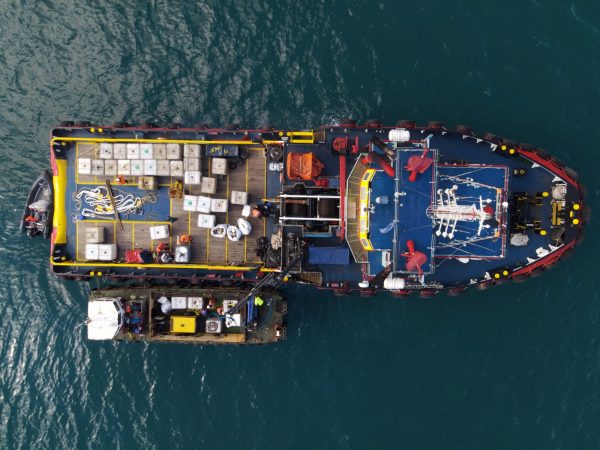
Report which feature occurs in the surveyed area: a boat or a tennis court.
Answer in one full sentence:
It is a boat that can be seen here.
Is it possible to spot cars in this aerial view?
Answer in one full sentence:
No, there's no car here.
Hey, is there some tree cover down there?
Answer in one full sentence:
No, there is no tree cover in the image.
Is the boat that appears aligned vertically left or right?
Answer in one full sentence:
The boat that appears aligned vertically sits on the left side.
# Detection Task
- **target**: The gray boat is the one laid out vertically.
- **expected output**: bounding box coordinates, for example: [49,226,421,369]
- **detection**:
[19,169,54,241]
